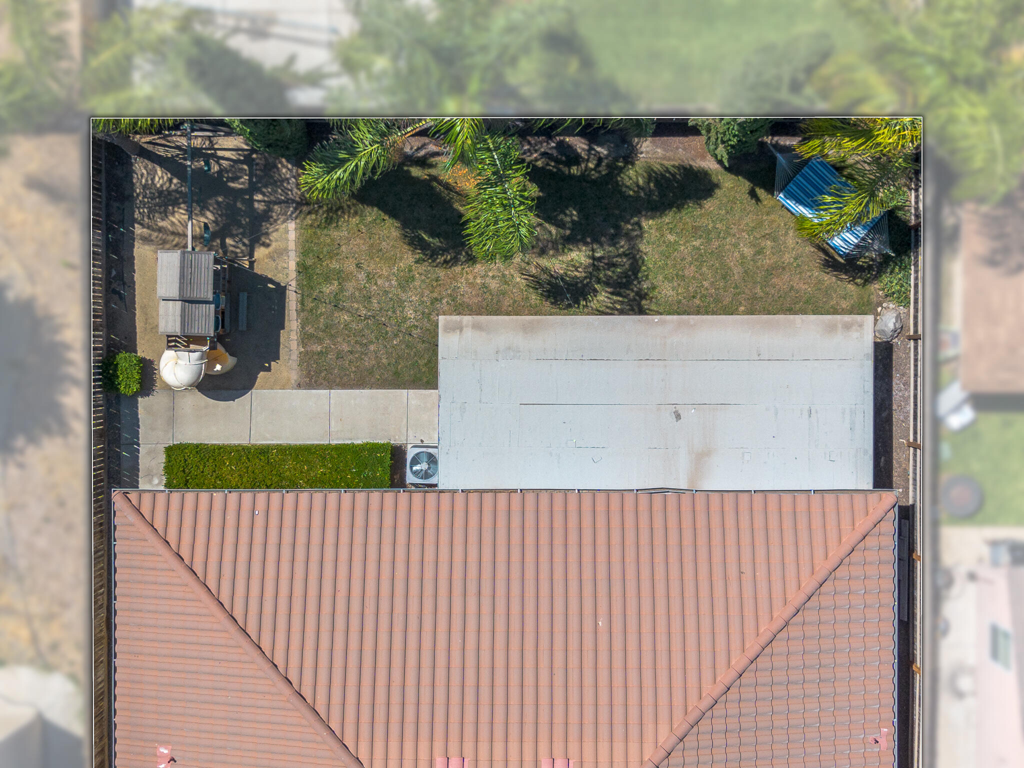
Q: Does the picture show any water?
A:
No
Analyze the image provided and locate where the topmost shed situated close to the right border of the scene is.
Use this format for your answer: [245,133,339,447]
[939,202,1024,394]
